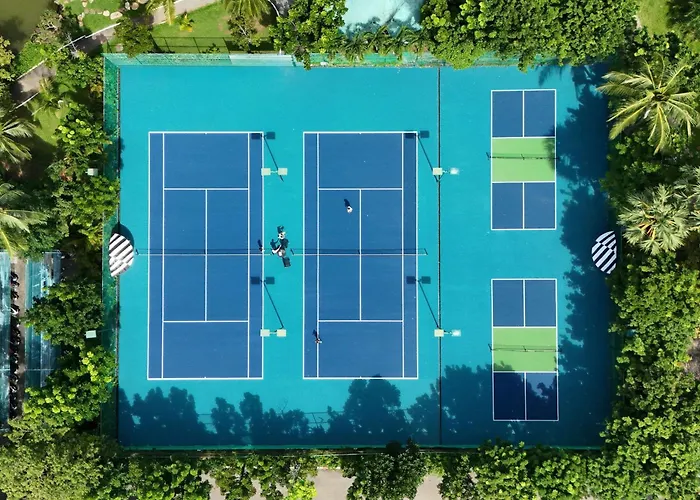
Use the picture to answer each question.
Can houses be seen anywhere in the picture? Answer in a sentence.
No, the frame has no house in it.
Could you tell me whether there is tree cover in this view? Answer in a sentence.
Yes, the picture does contain tree cover.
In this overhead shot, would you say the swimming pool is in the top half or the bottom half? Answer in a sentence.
The top half of the photo is where the swimming pool is.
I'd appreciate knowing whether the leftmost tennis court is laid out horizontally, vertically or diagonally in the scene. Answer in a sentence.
I'd say the leftmost tennis court is aligned vertically in the picture.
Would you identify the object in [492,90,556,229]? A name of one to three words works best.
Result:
sports court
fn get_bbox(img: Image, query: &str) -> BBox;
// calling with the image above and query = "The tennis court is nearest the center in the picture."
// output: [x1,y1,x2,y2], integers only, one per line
[303,131,418,380]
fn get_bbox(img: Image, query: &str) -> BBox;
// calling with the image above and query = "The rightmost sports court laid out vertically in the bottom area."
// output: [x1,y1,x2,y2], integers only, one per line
[492,279,558,421]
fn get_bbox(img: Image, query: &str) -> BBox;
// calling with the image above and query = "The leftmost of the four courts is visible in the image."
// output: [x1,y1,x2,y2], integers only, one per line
[148,131,262,380]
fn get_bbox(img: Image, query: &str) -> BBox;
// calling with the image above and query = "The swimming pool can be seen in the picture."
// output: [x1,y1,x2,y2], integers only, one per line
[323,0,442,46]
